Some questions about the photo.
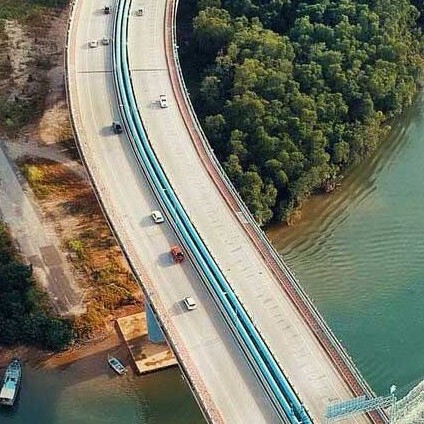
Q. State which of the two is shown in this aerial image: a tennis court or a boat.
boat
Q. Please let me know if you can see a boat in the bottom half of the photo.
Yes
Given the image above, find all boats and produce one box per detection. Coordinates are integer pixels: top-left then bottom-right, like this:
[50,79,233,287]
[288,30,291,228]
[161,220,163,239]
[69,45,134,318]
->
[110,351,127,375]
[1,356,19,406]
